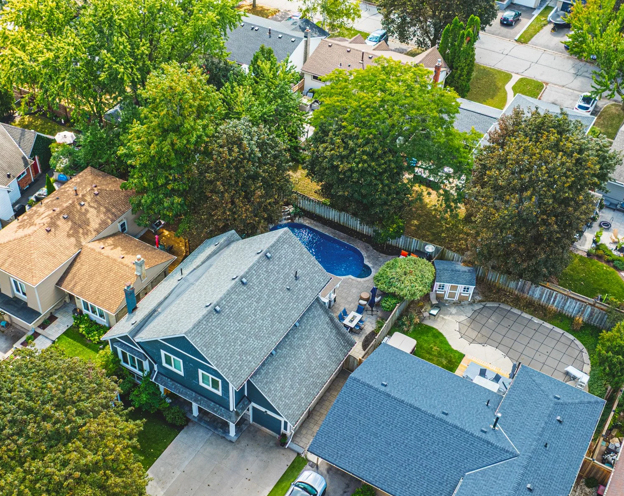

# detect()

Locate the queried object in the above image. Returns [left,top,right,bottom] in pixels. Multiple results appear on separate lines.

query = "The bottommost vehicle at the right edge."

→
[571,94,600,115]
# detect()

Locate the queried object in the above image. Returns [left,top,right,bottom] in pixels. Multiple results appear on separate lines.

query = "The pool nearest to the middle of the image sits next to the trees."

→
[268,219,372,280]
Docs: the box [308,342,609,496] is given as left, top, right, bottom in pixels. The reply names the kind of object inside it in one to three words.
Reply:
house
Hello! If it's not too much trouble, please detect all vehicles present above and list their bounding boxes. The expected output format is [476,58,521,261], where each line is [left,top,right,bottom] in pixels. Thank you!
[571,94,600,115]
[562,35,587,54]
[289,469,330,496]
[366,24,392,47]
[497,10,523,29]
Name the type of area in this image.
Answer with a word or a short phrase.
residential area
